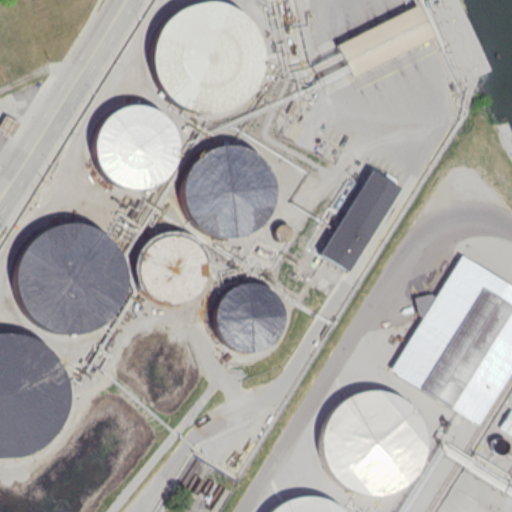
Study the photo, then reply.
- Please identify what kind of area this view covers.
industrial area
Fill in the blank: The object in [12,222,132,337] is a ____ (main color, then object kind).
gray storage tank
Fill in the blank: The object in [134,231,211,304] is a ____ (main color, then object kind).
white storage tank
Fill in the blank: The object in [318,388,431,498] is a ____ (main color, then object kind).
white storage tank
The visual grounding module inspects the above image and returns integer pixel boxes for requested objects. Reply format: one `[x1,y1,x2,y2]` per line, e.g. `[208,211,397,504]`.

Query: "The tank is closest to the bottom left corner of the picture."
[0,332,72,460]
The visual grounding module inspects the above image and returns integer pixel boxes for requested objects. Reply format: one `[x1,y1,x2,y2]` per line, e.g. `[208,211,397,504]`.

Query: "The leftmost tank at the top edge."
[150,0,270,117]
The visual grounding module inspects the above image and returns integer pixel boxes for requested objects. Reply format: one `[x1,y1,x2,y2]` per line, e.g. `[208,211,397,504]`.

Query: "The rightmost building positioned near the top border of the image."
[336,6,435,78]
